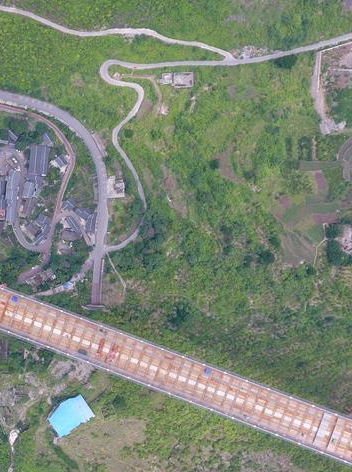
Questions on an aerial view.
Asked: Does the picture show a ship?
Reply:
No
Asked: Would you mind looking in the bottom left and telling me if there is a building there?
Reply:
Yes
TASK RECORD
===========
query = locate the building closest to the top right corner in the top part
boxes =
[169,69,194,96]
